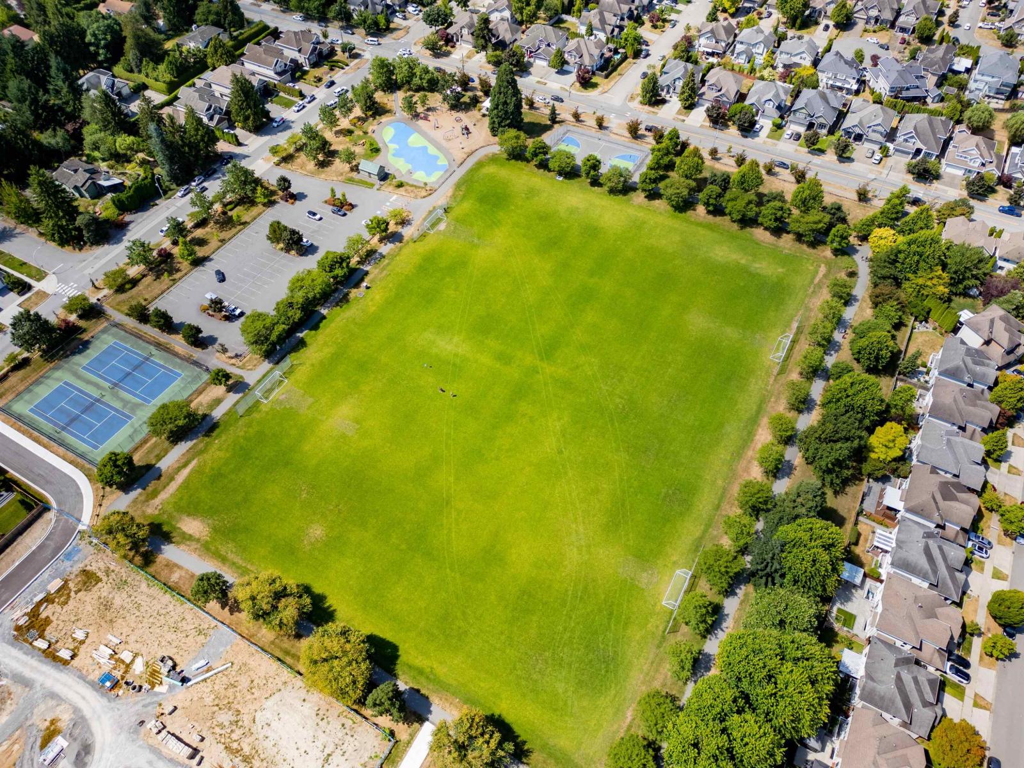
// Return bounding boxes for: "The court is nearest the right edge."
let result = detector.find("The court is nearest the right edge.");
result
[546,122,653,176]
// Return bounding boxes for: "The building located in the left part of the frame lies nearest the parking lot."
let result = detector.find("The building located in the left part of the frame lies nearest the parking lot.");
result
[353,154,387,179]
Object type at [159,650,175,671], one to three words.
work vehicle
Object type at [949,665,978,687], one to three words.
car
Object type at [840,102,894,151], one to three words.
house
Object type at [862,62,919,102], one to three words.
house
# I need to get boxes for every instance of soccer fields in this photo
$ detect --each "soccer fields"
[115,145,854,768]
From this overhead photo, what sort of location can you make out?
sports ground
